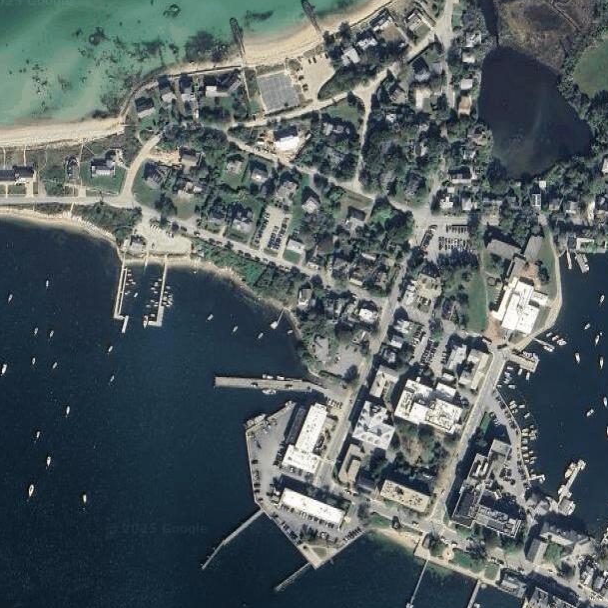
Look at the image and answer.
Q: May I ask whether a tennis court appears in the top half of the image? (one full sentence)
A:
Yes, you'll find a tennis court in the top half of the image.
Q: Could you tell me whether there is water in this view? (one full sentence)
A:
Yes, the picture does contain water.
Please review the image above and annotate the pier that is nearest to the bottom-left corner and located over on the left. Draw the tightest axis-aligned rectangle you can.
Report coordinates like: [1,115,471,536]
[201,510,263,570]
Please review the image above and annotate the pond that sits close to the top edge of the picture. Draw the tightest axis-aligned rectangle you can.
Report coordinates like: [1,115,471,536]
[478,0,592,180]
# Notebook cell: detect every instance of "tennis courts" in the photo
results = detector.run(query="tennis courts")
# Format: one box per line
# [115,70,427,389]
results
[257,72,299,113]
